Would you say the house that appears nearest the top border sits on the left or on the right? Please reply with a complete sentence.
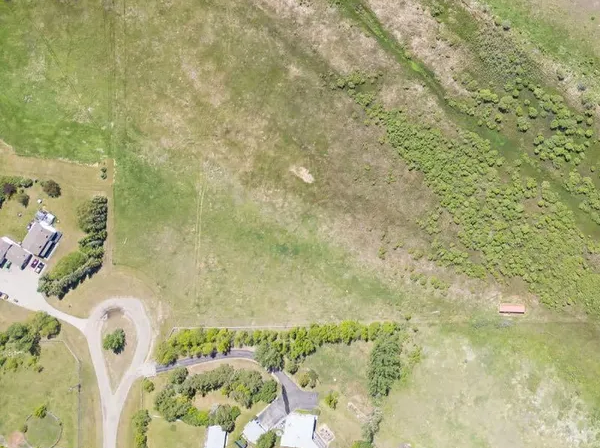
The house that appears nearest the top border sits on the left side.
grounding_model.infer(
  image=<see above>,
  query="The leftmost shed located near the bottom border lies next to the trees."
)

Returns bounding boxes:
[207,424,228,448]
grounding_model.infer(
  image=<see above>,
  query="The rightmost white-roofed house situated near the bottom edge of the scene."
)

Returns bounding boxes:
[281,412,323,448]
